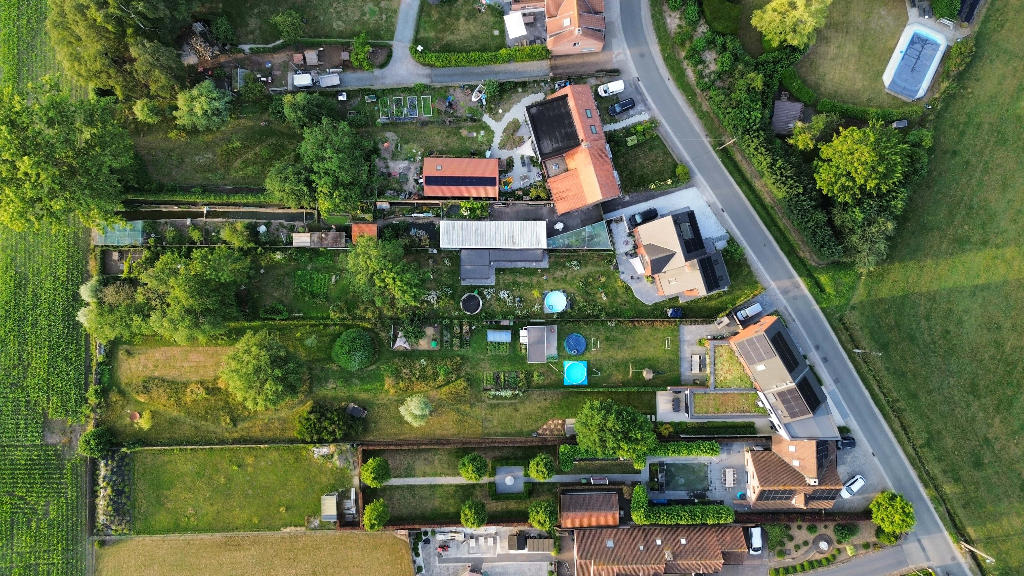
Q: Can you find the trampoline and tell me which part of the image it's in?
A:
center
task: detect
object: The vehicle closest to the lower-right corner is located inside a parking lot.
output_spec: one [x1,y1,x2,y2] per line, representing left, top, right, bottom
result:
[840,474,866,498]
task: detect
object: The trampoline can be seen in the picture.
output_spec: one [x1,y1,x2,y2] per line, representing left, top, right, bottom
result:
[460,292,482,314]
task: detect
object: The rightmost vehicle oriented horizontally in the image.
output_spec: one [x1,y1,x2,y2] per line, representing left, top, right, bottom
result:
[832,436,860,450]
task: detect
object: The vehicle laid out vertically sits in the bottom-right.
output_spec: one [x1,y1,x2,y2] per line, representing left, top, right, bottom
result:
[747,523,763,556]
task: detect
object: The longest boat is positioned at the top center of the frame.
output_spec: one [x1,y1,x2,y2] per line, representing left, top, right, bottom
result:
[472,85,485,101]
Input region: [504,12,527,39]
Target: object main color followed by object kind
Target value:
white umbrella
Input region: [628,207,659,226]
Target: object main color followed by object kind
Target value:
black car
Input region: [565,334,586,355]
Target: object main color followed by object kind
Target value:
blue swimming pool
